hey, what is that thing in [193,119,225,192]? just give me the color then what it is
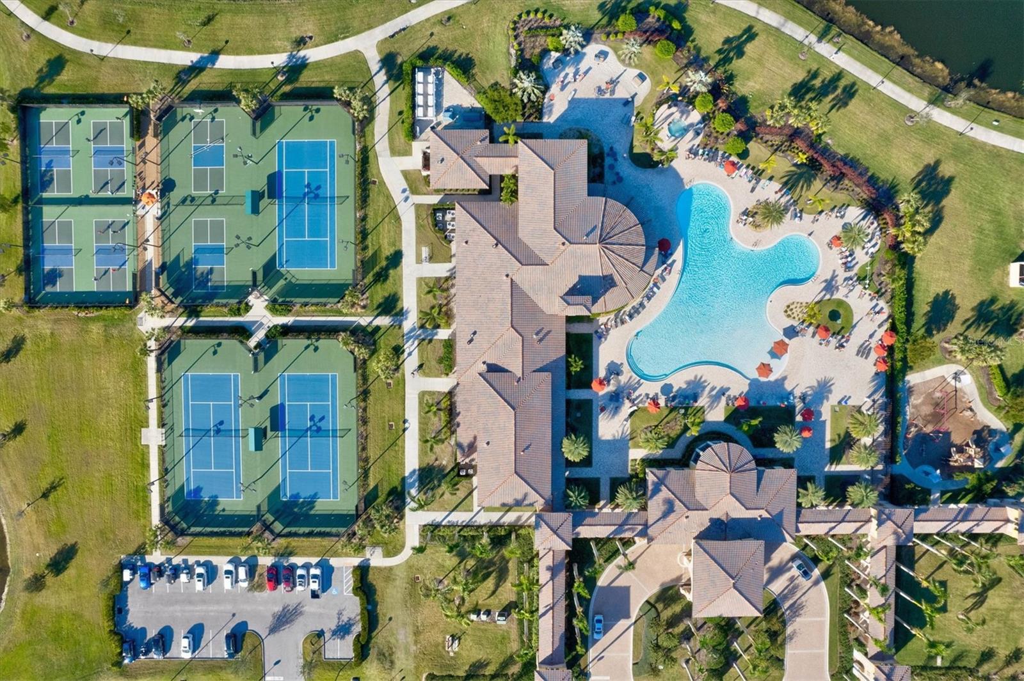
gray sports court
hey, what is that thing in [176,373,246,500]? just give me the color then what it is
blue tennis court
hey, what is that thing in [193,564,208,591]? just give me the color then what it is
white car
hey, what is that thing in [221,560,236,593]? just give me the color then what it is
white vehicle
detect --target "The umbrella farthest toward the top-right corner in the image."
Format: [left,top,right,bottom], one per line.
[828,234,844,249]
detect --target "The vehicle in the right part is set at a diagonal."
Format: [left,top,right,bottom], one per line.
[792,556,812,582]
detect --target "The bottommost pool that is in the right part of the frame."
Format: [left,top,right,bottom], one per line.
[625,180,823,383]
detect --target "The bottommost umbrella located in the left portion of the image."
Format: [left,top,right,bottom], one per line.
[142,191,159,207]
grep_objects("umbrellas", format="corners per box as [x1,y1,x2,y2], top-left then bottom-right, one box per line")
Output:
[142,191,159,207]
[756,361,771,378]
[798,407,814,422]
[734,395,749,410]
[798,424,813,440]
[828,234,844,249]
[872,342,888,357]
[771,340,787,356]
[659,237,672,253]
[721,160,737,176]
[873,356,889,372]
[956,374,972,385]
[815,324,830,340]
[644,397,660,413]
[880,330,896,345]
